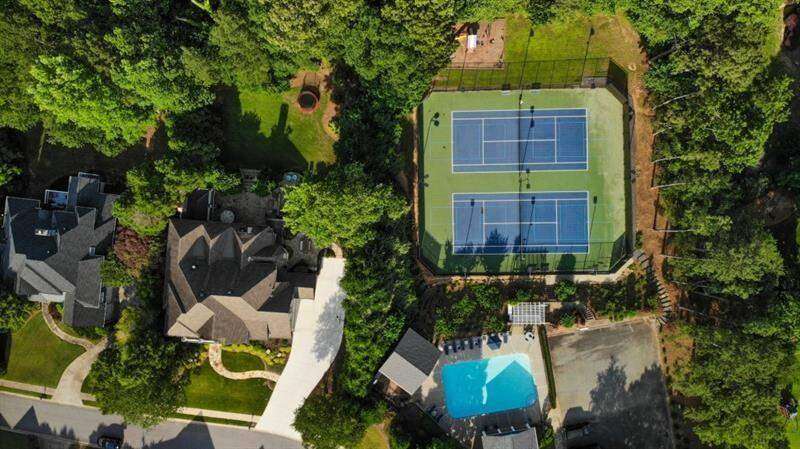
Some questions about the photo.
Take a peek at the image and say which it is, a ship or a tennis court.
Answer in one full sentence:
There is a tennis court in the scene.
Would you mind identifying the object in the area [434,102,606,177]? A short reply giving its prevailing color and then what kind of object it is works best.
blue tennis court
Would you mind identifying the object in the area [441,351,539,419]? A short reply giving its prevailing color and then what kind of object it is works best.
blue swimming pool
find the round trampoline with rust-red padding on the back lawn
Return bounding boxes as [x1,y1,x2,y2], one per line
[297,88,318,109]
